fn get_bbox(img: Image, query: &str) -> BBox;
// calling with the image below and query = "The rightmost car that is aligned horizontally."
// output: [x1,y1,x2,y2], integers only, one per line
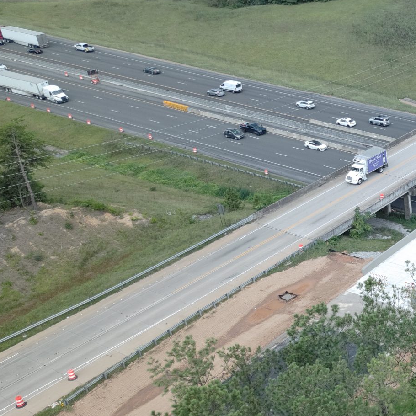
[368,114,393,127]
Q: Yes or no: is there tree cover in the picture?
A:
Yes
